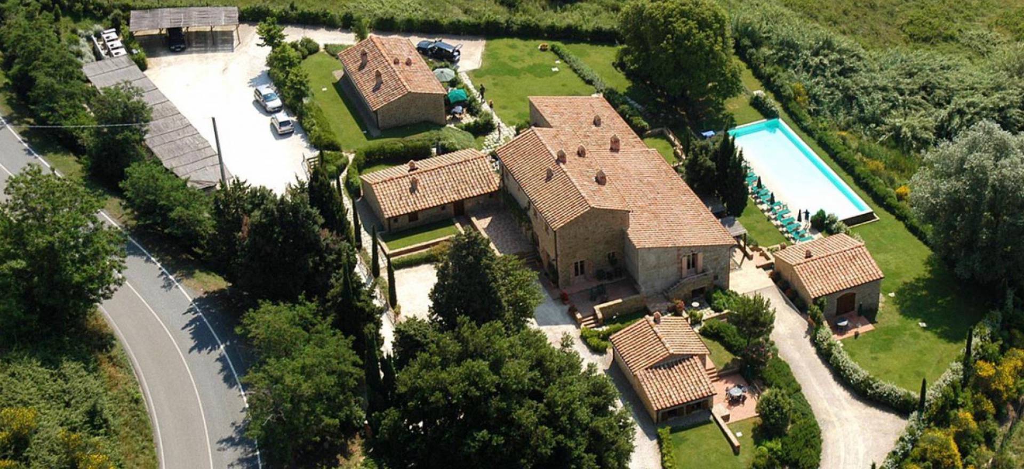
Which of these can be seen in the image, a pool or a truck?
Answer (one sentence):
Looking from above, you can make out a pool.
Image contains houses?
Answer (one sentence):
Yes, this view includes a house.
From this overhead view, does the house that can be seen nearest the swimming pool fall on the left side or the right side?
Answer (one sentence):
The house that can be seen nearest the swimming pool is on the right side of the image.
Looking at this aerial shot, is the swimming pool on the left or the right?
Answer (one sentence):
You can find the swimming pool on the right side of the picture.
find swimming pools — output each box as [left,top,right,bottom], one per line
[730,116,880,234]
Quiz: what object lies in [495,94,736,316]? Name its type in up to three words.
house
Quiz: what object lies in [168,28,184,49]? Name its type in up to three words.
car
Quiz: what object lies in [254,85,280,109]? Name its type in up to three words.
car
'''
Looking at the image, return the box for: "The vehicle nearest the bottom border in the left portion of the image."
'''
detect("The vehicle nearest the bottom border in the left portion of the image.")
[271,112,293,131]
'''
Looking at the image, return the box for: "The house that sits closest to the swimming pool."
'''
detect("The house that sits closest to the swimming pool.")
[771,233,883,322]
